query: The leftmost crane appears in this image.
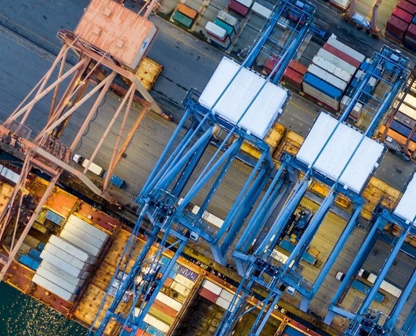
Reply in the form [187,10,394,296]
[0,0,182,283]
